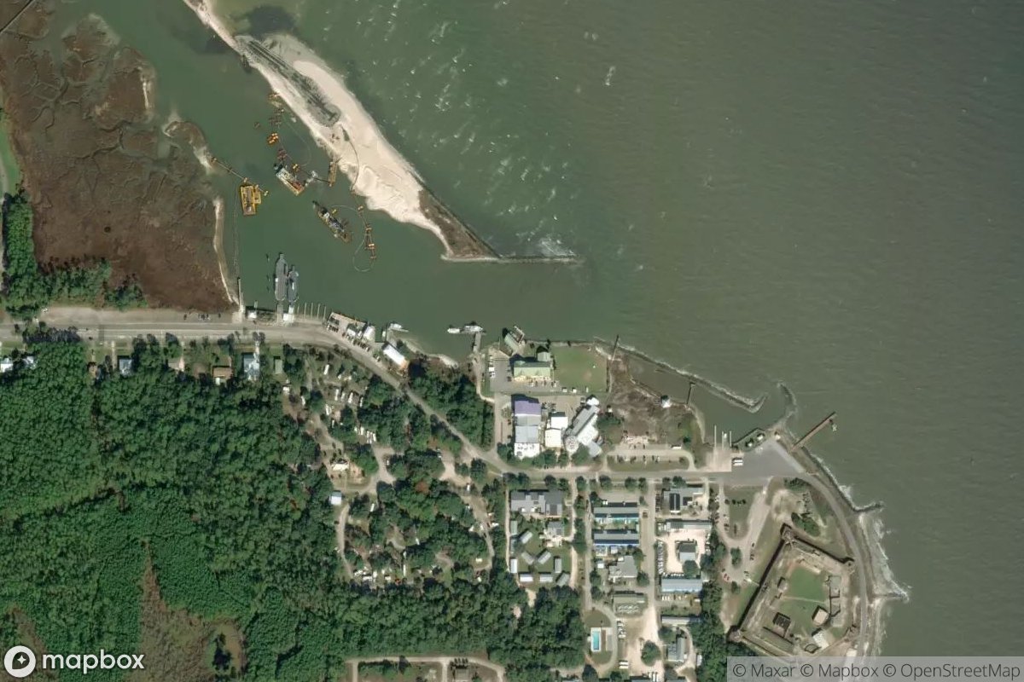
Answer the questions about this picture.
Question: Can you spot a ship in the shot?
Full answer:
Yes, the photo shows a ship.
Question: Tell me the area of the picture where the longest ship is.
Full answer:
The longest ship is located in the top left region of the scene.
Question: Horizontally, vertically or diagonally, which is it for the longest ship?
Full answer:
Seen from above, the longest ship lies diagonally.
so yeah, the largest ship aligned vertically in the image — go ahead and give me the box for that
[274,255,286,300]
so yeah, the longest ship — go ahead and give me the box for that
[211,157,269,215]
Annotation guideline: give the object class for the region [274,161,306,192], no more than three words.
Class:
ship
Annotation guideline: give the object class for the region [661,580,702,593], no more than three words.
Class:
shed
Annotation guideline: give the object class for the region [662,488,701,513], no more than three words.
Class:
building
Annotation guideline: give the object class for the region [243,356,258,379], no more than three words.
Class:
house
